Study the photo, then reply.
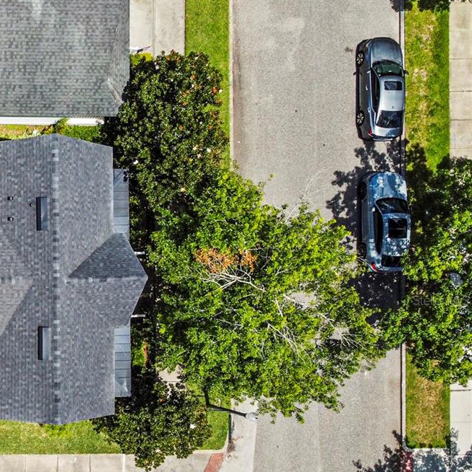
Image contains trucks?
No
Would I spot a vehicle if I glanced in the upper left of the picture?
No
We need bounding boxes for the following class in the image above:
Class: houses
[0,133,148,425]
[0,0,130,125]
